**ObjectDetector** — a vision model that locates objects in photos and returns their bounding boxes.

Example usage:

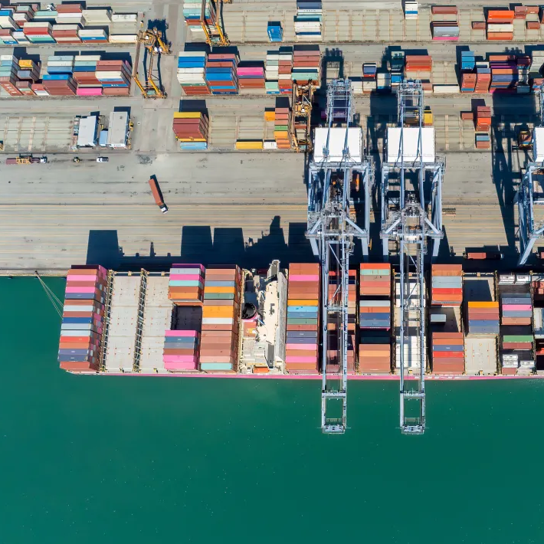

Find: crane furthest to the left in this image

[128,25,168,101]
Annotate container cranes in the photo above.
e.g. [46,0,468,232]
[128,25,168,101]
[377,75,446,435]
[285,79,316,156]
[201,0,235,47]
[506,74,544,270]
[308,75,377,434]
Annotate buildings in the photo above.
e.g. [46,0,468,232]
[105,107,132,145]
[75,111,102,147]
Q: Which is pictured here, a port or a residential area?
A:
port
